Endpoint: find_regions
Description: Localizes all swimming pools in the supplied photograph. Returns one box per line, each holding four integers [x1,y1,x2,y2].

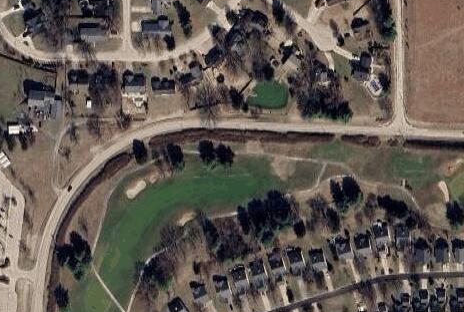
[368,77,385,95]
